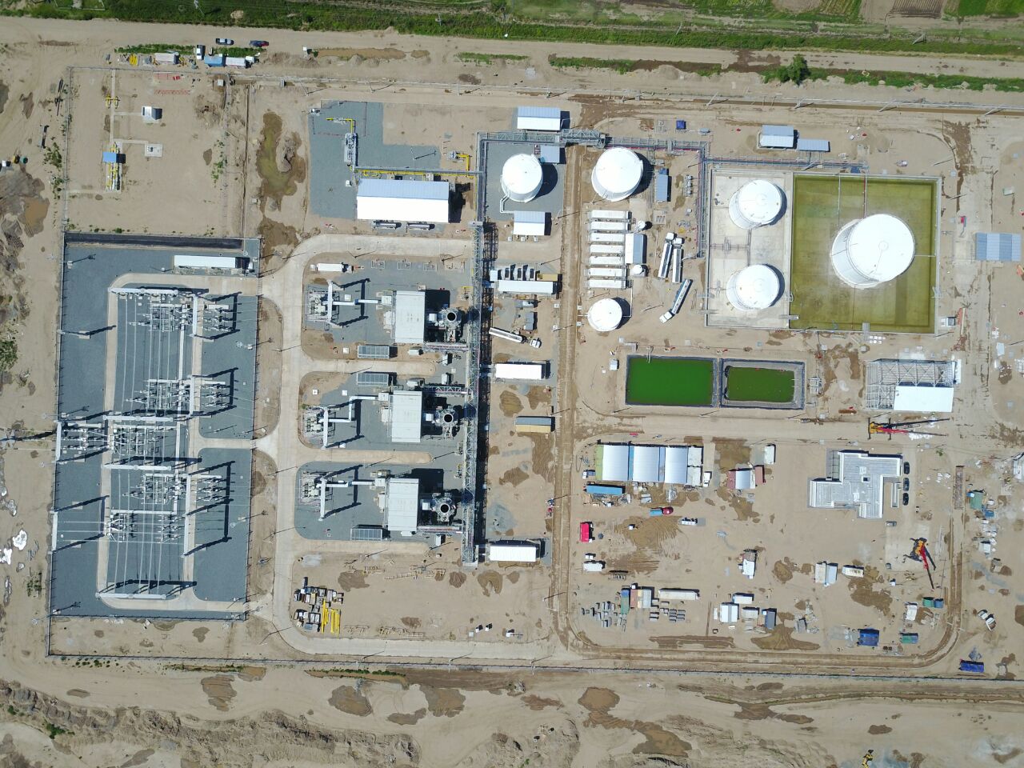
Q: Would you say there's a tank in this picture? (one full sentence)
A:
Yes, there is a tank in the image.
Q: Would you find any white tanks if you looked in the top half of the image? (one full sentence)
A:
Yes, a white tank is visible in the top half of the image.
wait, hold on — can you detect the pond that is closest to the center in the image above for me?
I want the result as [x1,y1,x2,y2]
[626,347,714,407]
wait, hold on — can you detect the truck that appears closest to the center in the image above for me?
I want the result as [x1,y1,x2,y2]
[489,327,540,348]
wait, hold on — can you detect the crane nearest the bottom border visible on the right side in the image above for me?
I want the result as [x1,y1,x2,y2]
[902,534,936,590]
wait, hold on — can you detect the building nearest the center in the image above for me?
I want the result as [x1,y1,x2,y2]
[495,362,542,380]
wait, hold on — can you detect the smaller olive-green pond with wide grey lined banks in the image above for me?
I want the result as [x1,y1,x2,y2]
[718,359,805,409]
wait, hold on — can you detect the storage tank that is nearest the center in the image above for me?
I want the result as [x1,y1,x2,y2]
[586,298,623,333]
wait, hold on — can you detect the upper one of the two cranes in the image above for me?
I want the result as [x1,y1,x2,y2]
[865,416,950,440]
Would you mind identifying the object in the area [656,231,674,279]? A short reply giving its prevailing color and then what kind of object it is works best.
white vehicle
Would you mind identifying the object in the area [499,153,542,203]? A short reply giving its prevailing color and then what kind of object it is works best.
white storage tank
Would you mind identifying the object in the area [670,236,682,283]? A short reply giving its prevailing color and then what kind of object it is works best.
white vehicle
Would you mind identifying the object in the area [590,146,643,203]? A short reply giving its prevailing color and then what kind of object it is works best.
white storage tank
